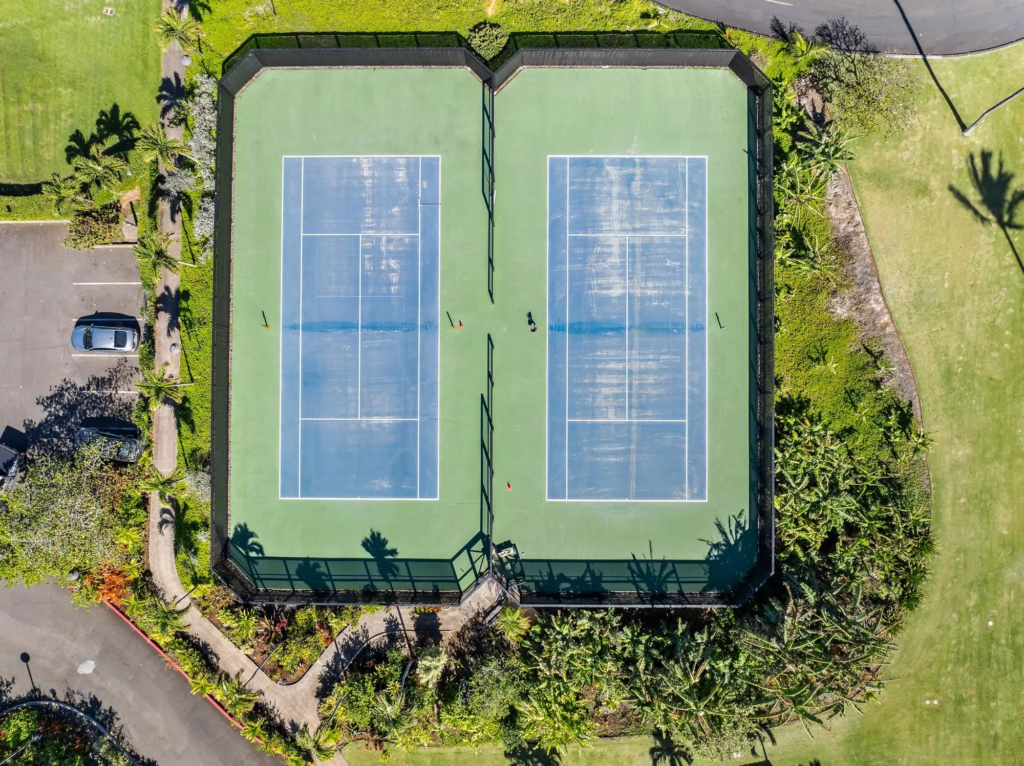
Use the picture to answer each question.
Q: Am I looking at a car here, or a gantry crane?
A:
car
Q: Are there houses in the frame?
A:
No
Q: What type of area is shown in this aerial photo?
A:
sports ground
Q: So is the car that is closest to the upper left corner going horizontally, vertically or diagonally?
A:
horizontally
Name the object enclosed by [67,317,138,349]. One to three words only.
car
